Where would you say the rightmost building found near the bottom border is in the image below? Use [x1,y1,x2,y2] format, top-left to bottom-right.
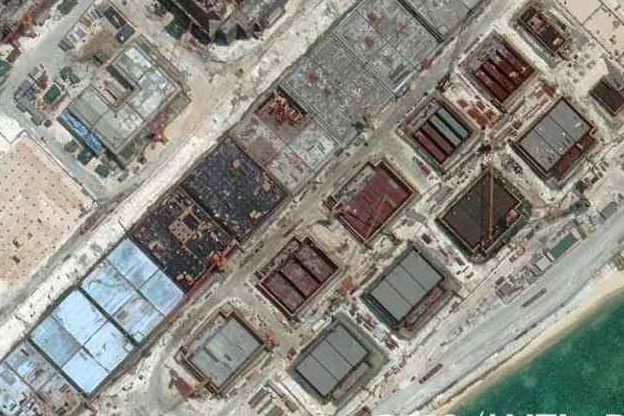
[291,322,378,404]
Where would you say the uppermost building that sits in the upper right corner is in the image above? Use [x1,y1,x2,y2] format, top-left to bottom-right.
[518,6,566,55]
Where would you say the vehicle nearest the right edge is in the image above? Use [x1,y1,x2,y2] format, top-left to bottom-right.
[523,287,547,307]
